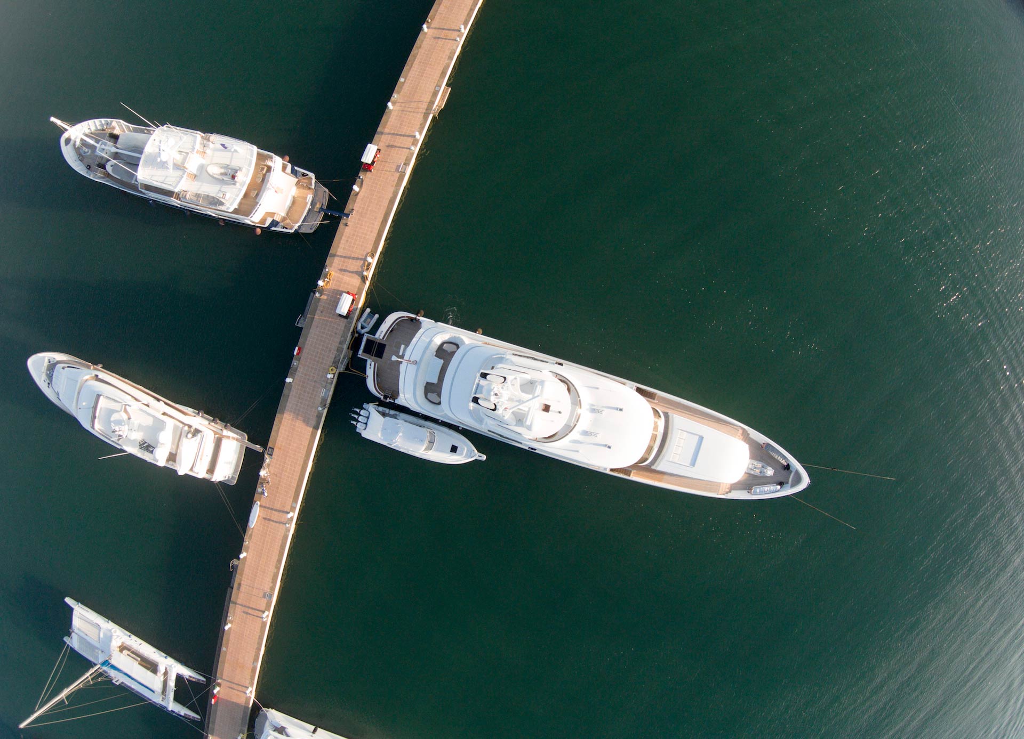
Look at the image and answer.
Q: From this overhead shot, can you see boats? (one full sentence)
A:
Yes, a boat appears in the view.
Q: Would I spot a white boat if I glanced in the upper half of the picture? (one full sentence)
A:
Yes, you'll find a white boat in the upper half of the picture.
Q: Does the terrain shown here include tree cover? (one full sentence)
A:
No, no tree cover is visible.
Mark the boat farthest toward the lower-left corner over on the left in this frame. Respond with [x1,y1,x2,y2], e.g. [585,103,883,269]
[17,595,208,723]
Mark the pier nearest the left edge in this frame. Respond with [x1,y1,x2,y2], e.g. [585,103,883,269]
[201,564,239,739]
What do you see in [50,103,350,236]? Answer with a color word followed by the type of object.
white boat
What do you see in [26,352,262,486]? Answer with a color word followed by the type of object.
white boat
